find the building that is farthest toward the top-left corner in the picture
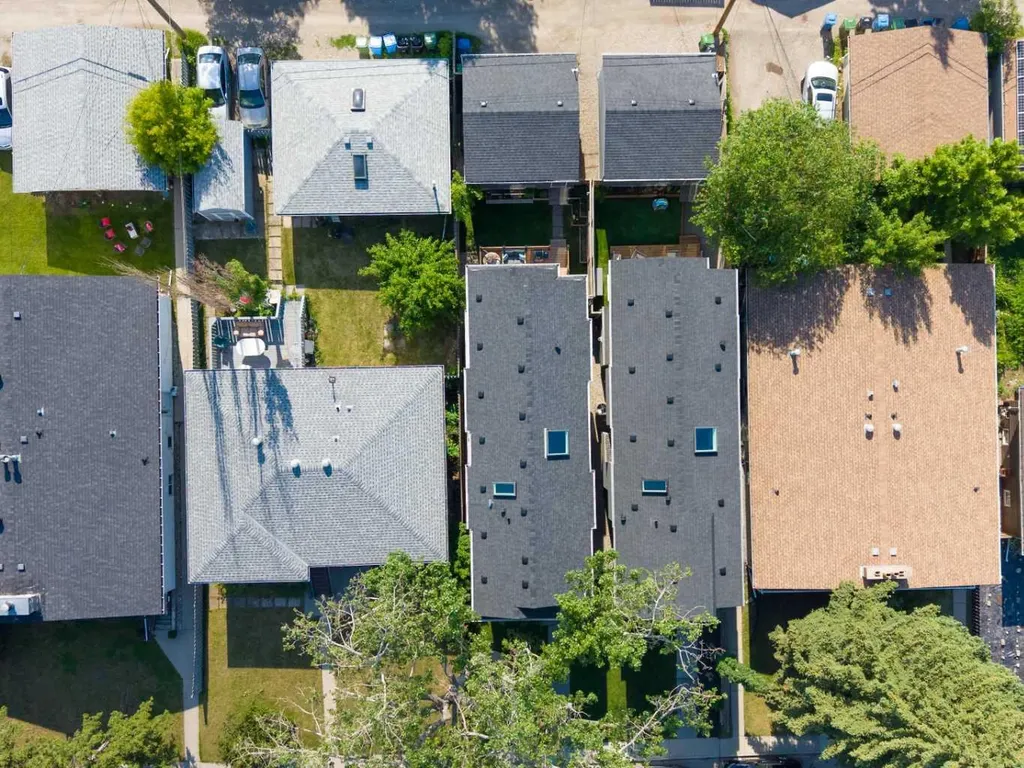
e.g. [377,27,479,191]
[11,25,176,194]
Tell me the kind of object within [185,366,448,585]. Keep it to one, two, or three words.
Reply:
house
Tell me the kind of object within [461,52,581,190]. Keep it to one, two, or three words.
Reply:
building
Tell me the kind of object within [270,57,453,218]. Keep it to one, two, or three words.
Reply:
building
